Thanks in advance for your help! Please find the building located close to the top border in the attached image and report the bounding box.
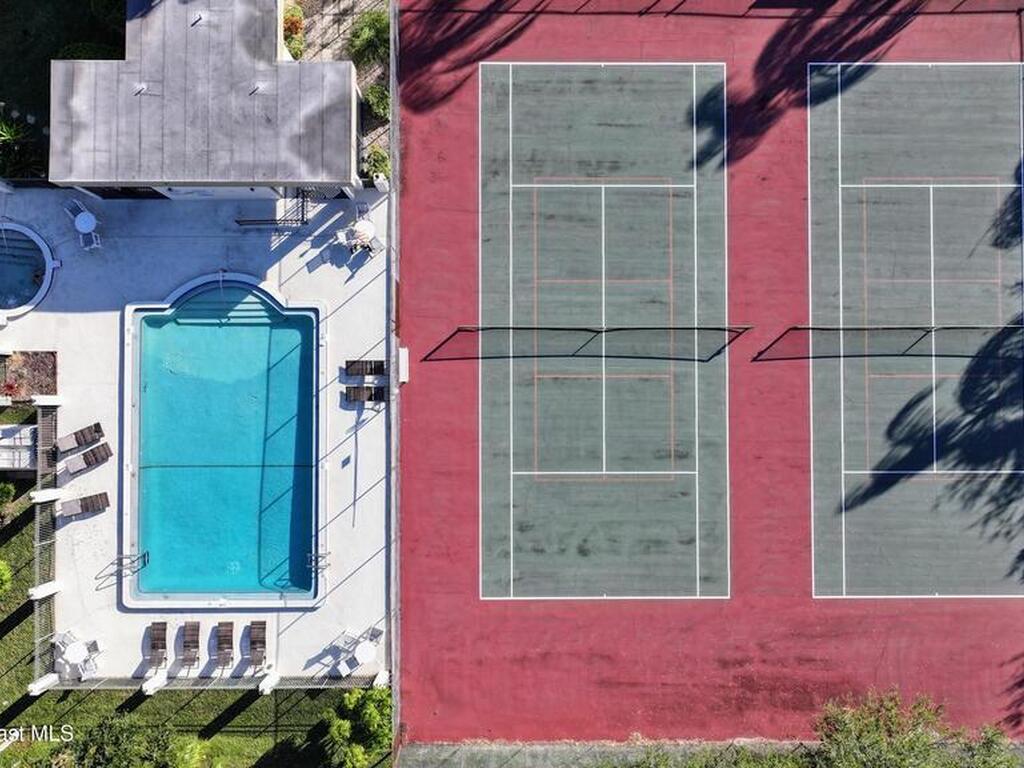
[49,0,366,202]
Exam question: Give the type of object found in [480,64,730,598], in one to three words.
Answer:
tennis court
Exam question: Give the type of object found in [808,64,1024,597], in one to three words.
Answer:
tennis court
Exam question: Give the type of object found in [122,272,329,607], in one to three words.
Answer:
swimming pool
